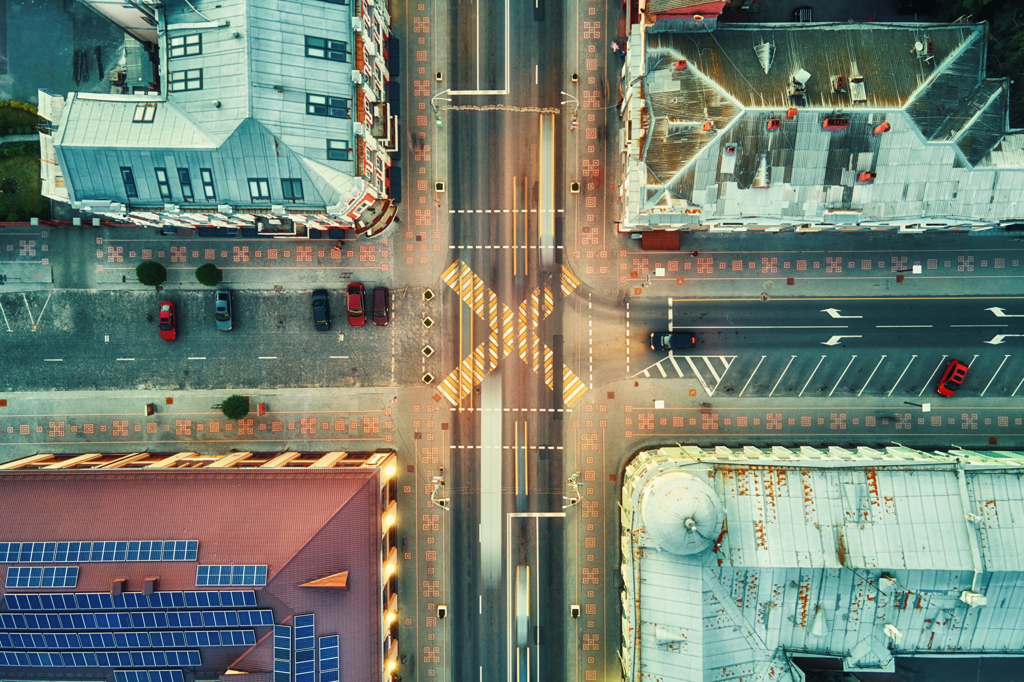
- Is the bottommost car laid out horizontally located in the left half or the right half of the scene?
right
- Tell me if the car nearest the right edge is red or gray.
red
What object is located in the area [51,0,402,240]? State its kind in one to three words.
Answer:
building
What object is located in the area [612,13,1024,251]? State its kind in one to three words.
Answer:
building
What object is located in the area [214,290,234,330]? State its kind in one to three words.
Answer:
car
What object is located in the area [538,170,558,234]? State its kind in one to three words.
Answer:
vehicle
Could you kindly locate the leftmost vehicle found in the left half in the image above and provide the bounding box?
[158,301,179,340]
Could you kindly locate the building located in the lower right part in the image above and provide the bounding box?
[612,442,1024,682]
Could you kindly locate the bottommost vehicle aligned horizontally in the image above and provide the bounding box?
[650,331,695,351]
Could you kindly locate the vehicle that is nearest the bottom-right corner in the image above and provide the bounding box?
[934,358,969,398]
